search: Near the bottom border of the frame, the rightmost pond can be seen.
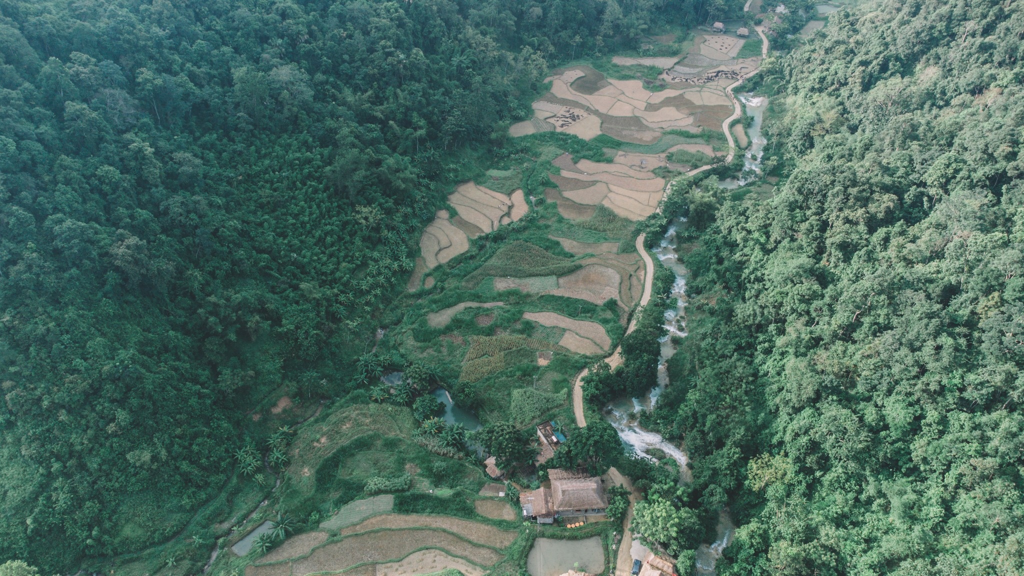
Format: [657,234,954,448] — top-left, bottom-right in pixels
[527,537,604,576]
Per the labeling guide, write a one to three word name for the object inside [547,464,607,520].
house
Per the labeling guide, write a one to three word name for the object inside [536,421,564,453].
building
